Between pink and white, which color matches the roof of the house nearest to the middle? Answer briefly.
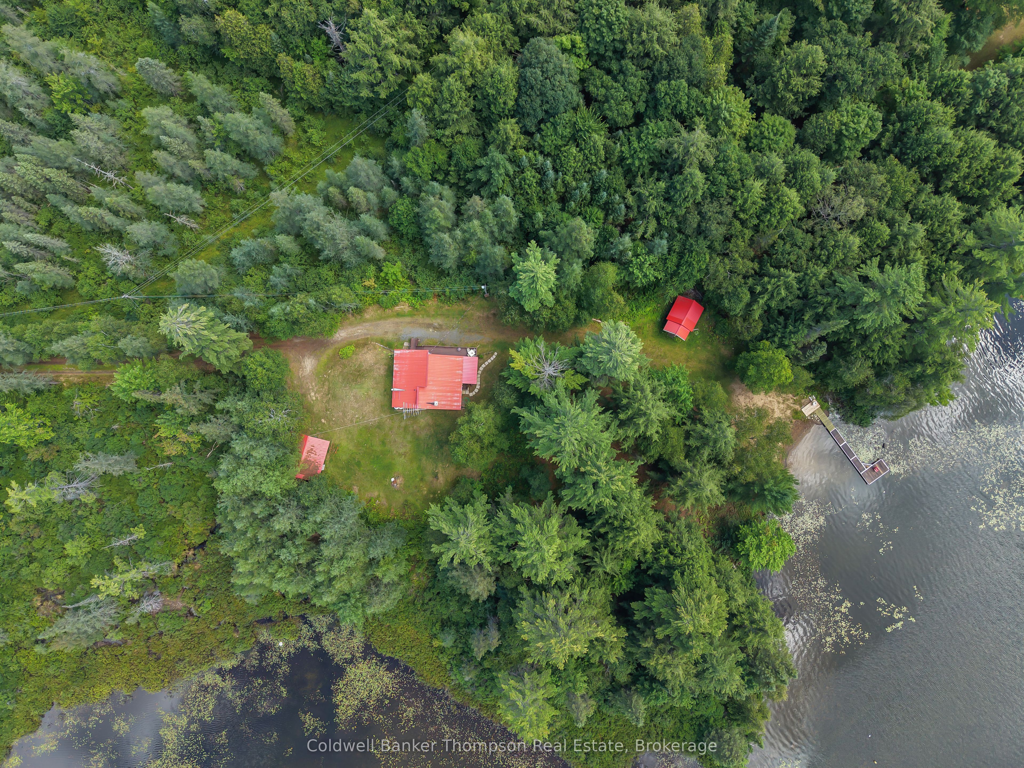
pink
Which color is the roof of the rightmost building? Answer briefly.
red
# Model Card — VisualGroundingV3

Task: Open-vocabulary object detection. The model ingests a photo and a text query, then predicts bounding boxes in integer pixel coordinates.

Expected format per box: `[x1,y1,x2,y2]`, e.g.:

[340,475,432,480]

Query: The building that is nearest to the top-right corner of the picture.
[661,297,704,341]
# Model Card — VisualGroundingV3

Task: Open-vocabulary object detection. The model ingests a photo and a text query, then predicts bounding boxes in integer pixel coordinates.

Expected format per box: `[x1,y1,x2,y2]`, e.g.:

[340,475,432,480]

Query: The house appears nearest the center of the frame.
[391,349,478,410]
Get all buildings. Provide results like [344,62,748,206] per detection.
[391,349,478,410]
[661,297,704,341]
[293,436,331,483]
